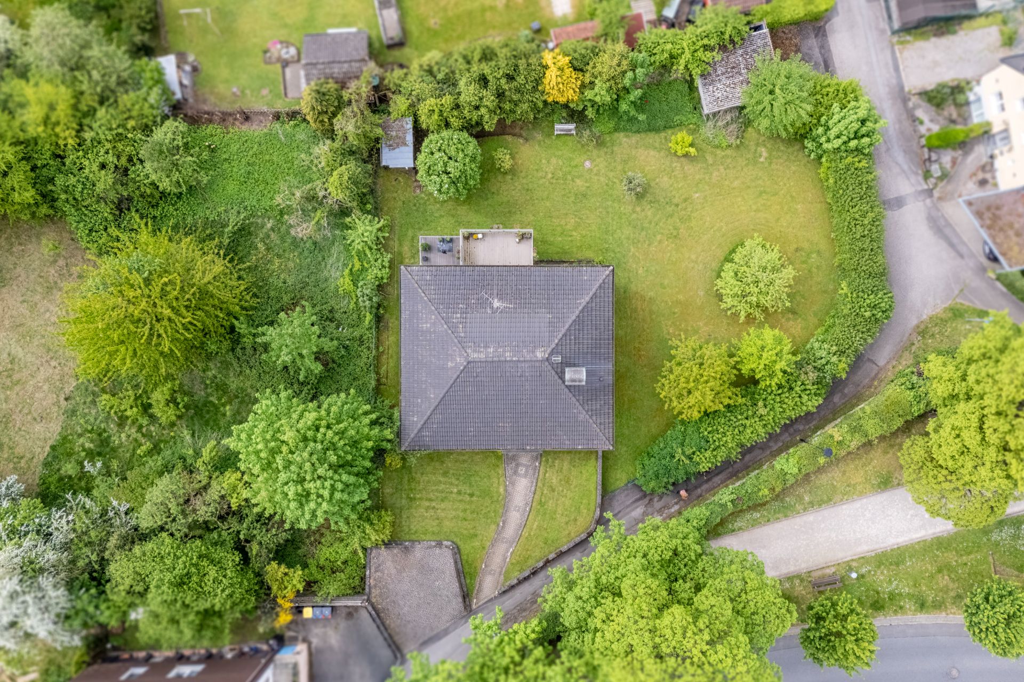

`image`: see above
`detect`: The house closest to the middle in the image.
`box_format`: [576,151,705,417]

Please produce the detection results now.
[399,264,616,454]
